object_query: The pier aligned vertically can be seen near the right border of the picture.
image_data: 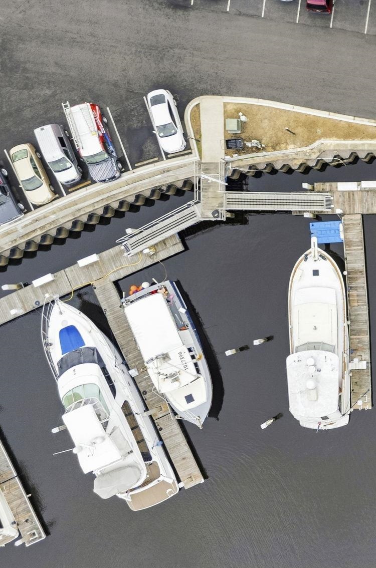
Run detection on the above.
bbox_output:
[342,214,375,410]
